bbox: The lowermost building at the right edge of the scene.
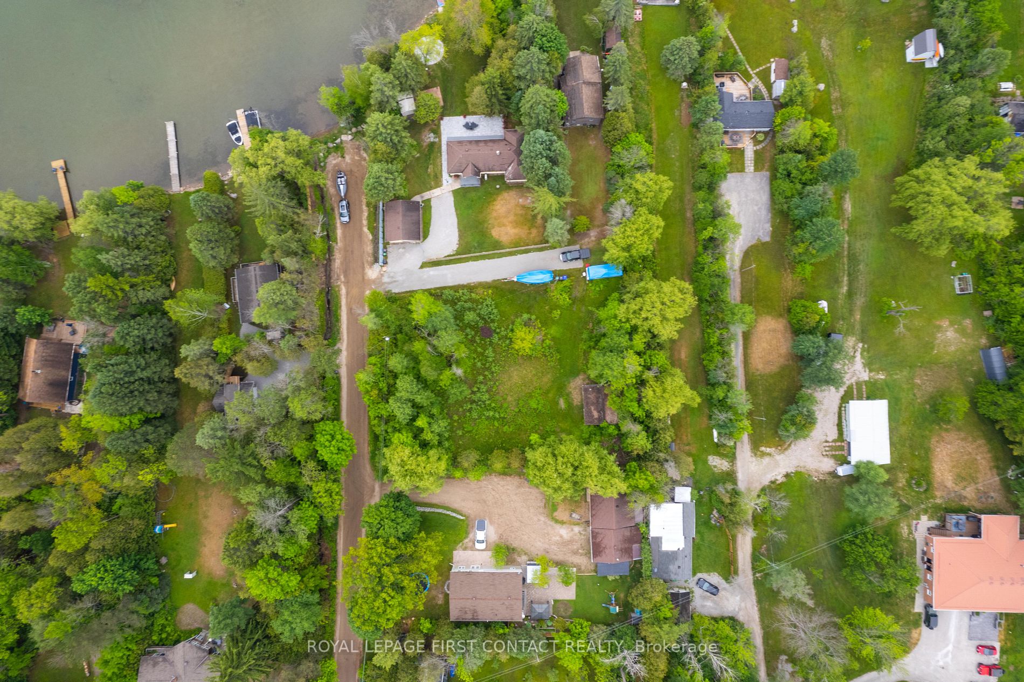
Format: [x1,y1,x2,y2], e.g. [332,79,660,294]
[923,513,1024,613]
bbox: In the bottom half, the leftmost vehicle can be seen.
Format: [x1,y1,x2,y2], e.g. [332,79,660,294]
[474,518,486,550]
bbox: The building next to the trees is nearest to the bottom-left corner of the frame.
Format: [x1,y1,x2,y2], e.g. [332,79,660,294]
[138,642,222,682]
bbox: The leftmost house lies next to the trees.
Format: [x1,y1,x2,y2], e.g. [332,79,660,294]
[17,338,81,403]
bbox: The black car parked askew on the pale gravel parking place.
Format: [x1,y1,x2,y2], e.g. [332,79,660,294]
[695,577,720,596]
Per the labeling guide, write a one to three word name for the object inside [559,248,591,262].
vehicle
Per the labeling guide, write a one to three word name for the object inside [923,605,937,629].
car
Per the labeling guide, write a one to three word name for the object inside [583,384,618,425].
shed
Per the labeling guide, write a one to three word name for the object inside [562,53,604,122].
house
